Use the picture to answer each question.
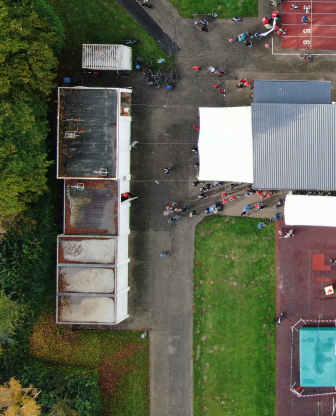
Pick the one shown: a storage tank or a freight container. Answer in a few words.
freight container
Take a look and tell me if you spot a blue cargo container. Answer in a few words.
No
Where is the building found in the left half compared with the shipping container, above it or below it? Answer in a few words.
below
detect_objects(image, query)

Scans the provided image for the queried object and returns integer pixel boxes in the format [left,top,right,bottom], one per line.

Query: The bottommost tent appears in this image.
[283,194,336,226]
